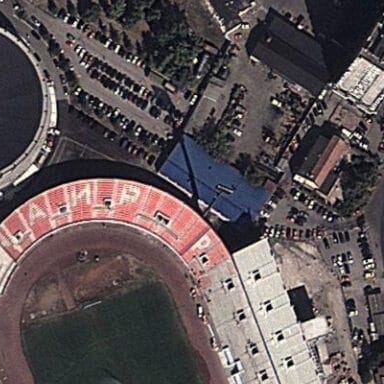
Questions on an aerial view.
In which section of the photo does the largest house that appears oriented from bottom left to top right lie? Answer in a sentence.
The largest house that appears oriented from bottom left to top right is located in the right region of the scene.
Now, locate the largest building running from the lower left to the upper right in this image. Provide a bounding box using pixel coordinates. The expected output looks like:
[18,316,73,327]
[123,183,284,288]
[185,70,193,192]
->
[290,133,348,192]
